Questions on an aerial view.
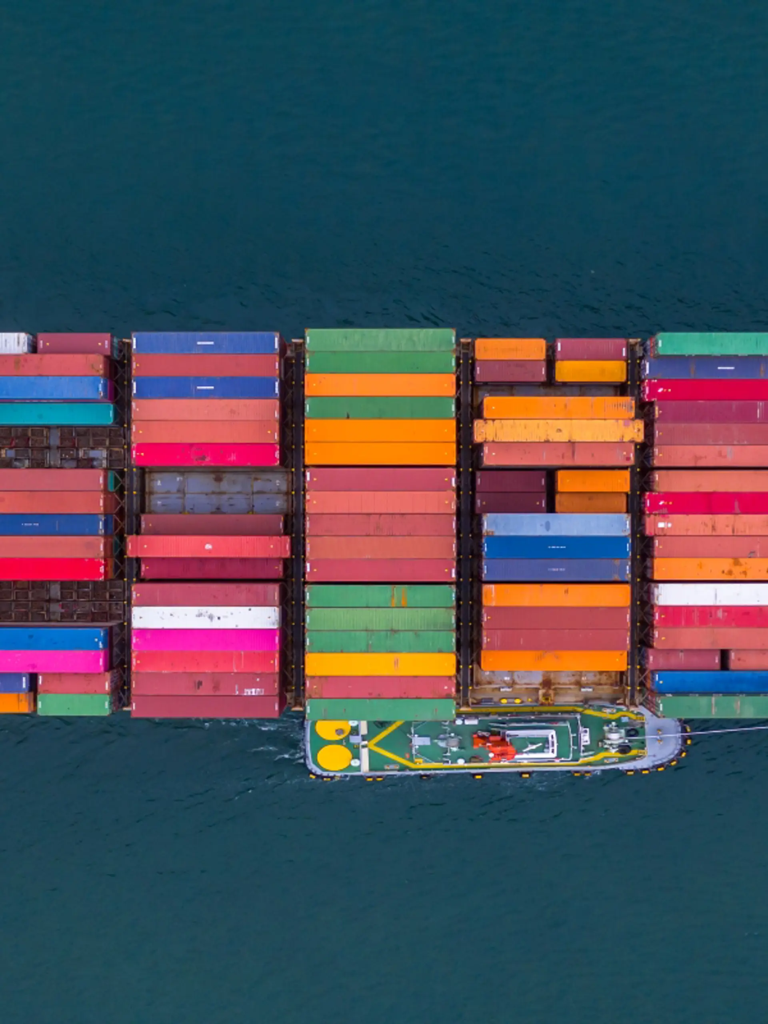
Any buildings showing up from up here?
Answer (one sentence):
No, there isn't any building down there.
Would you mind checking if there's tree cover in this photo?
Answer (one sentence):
No, the picture contains no tree cover.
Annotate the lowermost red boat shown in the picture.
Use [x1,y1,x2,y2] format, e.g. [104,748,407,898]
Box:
[488,746,519,762]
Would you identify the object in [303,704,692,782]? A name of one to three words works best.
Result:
boat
